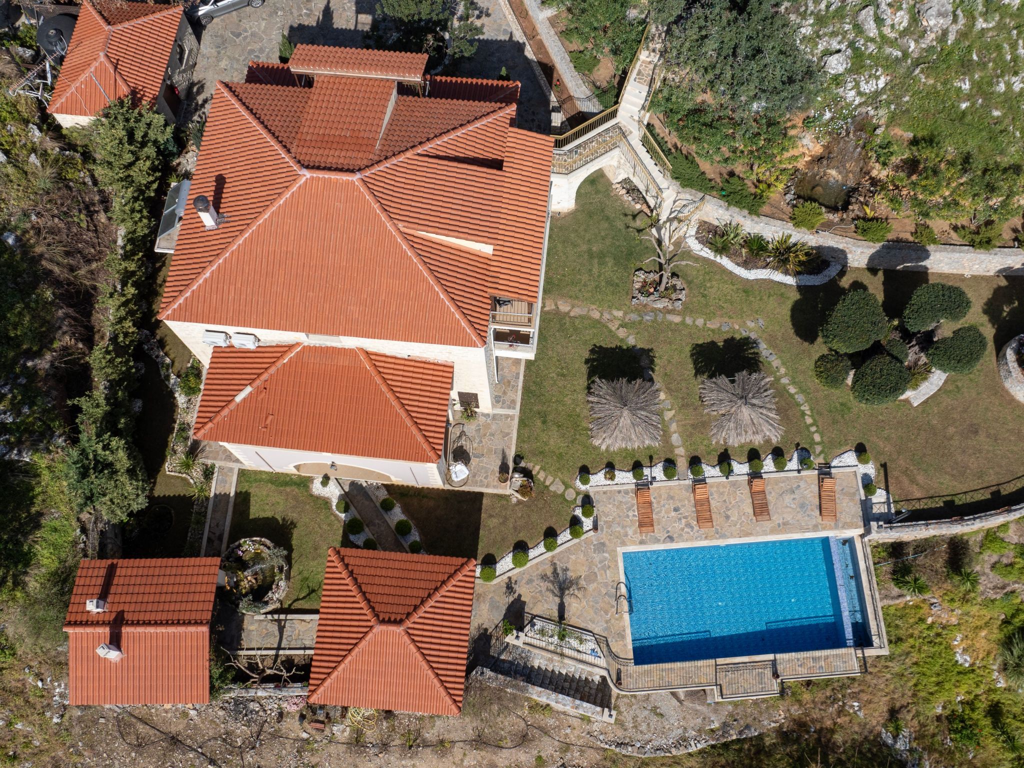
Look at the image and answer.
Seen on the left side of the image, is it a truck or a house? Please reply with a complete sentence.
It is a house that can be seen on the left side of the image.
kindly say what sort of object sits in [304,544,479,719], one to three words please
building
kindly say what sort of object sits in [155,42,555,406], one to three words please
house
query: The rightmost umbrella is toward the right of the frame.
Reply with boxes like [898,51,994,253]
[692,366,783,454]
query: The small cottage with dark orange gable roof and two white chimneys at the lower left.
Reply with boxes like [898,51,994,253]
[64,556,221,705]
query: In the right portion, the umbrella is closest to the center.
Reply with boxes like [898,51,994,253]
[580,373,668,454]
